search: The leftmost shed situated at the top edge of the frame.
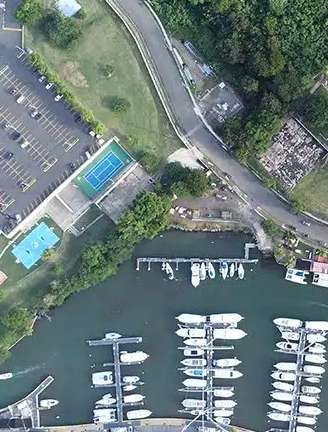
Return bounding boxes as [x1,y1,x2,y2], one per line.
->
[56,0,82,19]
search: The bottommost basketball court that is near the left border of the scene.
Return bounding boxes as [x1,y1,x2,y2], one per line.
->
[12,223,60,269]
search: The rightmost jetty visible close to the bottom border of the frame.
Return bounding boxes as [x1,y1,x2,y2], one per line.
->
[265,326,328,432]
